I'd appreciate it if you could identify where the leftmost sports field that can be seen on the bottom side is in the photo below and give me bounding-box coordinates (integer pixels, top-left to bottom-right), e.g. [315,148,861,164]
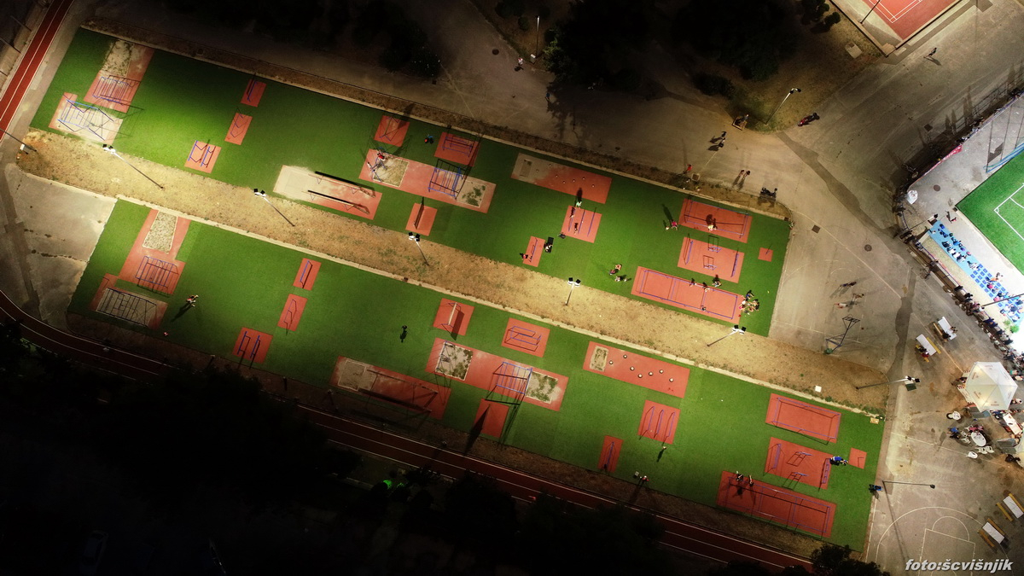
[66,195,886,553]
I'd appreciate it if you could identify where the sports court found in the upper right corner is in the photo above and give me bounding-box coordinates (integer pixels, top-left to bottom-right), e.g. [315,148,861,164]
[828,0,963,58]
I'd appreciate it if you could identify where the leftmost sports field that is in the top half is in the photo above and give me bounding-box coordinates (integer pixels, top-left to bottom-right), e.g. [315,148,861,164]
[29,26,791,336]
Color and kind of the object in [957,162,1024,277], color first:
green soccer field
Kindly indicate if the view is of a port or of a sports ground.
sports ground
